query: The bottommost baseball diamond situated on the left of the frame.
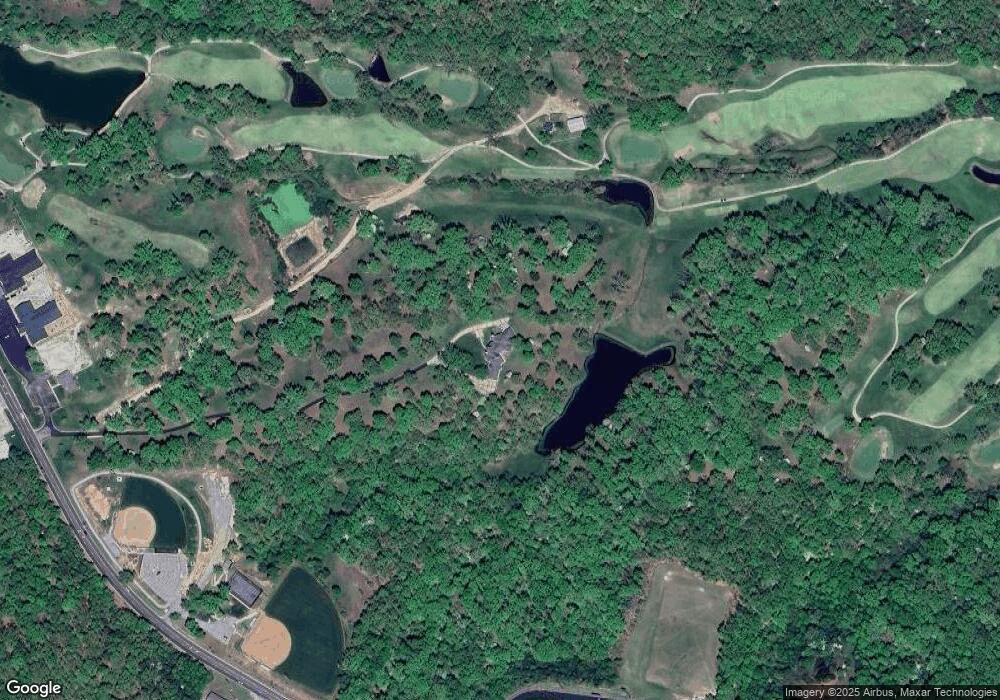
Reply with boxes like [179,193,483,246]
[240,566,347,693]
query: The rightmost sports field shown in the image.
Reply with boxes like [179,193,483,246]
[620,559,739,700]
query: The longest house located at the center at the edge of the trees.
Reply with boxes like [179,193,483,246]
[484,325,514,377]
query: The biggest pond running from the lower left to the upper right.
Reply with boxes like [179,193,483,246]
[538,333,676,453]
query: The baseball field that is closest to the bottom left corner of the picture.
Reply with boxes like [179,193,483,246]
[113,475,189,554]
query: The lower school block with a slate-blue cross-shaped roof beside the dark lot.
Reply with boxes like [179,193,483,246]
[13,301,62,345]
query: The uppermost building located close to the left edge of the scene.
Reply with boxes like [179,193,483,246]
[0,248,45,296]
